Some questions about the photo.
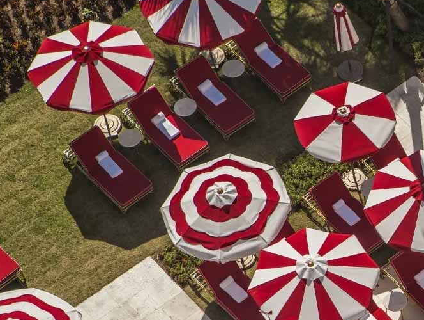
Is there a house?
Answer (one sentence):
No, the photo shows no house.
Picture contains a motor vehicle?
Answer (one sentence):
No, there is no motor vehicle in the image.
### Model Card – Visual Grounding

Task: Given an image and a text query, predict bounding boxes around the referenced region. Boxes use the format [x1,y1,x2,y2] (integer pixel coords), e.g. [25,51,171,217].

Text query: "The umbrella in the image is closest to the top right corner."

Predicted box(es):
[332,0,367,85]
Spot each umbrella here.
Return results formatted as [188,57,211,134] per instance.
[0,290,74,320]
[158,153,292,277]
[332,0,367,85]
[140,0,261,71]
[29,17,156,138]
[292,83,401,197]
[246,228,384,320]
[361,149,424,256]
